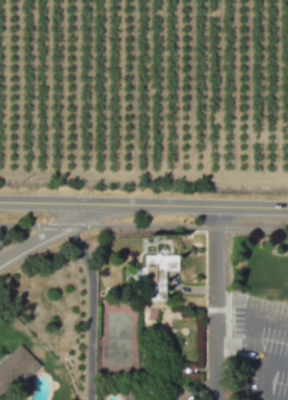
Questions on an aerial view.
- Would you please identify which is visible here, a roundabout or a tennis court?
tennis court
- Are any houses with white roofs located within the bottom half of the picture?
Yes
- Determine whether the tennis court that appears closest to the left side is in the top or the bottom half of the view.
bottom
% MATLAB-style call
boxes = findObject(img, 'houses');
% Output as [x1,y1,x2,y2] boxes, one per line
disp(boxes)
[0,346,42,396]
[136,252,180,303]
